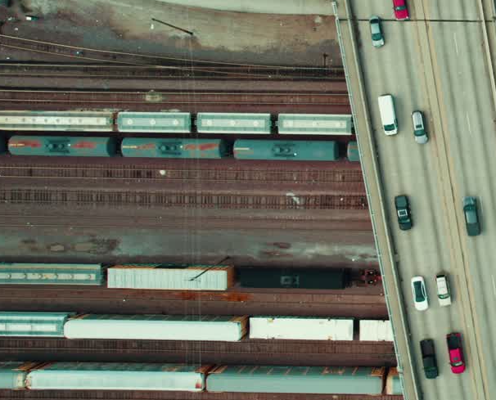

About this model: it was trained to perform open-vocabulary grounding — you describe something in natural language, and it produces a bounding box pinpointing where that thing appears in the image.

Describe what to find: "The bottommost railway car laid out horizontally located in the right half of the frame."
[208,363,389,394]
